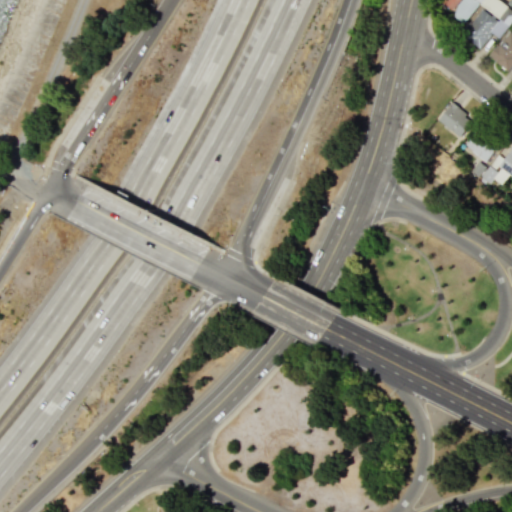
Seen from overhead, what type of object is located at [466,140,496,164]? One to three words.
house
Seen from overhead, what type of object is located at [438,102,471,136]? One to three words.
house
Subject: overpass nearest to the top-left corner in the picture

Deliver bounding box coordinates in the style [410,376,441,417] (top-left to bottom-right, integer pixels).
[66,175,212,280]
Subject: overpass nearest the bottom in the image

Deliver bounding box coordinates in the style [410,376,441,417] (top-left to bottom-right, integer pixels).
[254,280,342,346]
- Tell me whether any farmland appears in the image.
No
